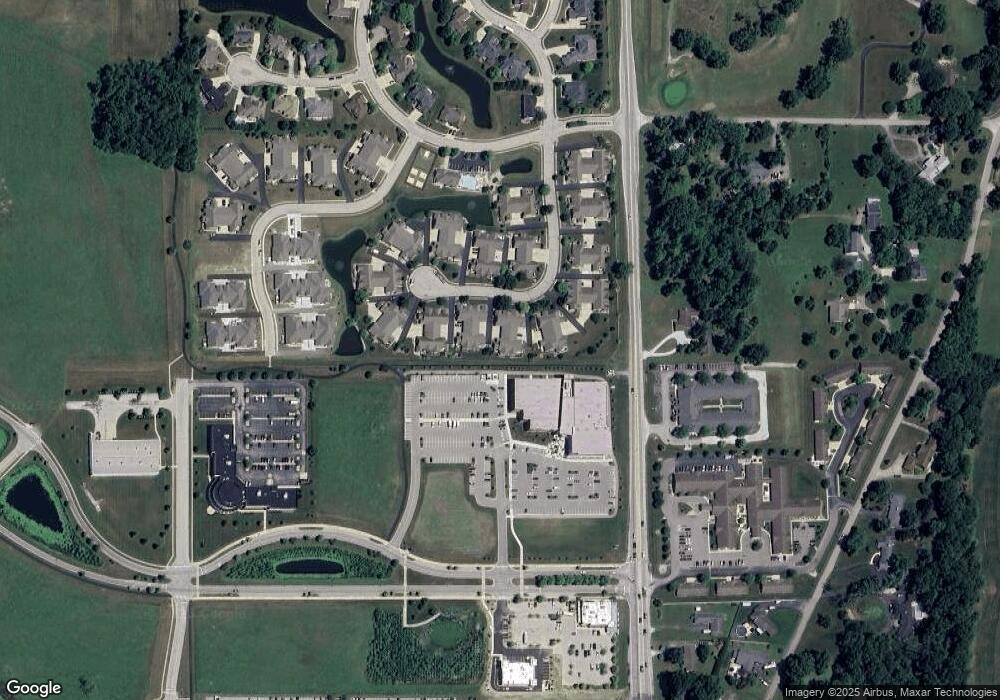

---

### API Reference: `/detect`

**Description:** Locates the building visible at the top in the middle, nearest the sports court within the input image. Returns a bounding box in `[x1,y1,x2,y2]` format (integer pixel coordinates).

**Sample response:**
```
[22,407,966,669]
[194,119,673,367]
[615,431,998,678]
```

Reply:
[433,167,461,187]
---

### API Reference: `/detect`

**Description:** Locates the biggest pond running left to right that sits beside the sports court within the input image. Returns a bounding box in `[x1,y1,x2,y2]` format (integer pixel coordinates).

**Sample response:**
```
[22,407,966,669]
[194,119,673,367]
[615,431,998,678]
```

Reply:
[396,194,494,226]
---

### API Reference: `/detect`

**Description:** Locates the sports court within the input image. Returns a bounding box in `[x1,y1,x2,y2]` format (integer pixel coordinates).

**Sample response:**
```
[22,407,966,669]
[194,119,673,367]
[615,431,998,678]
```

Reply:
[404,146,438,190]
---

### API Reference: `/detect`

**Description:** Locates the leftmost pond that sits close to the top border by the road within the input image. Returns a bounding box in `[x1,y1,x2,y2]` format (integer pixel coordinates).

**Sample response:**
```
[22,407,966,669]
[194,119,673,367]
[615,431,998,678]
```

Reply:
[194,0,346,62]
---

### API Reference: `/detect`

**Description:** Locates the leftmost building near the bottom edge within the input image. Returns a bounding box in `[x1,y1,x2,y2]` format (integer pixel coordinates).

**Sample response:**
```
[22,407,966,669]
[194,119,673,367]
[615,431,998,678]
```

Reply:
[502,659,538,686]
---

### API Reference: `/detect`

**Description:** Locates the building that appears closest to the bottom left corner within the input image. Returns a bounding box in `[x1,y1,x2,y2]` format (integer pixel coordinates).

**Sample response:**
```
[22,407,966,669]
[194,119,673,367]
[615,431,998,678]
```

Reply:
[91,432,160,475]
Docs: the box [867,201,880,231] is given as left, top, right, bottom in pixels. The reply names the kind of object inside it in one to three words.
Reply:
shed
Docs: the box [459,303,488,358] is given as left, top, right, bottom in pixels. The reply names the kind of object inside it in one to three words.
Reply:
house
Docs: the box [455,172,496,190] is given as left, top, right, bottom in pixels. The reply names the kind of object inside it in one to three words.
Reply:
swimming pool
